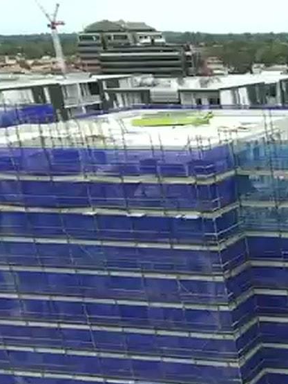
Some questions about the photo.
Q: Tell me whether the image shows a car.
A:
No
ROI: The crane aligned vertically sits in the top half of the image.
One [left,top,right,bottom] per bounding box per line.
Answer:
[35,0,70,83]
